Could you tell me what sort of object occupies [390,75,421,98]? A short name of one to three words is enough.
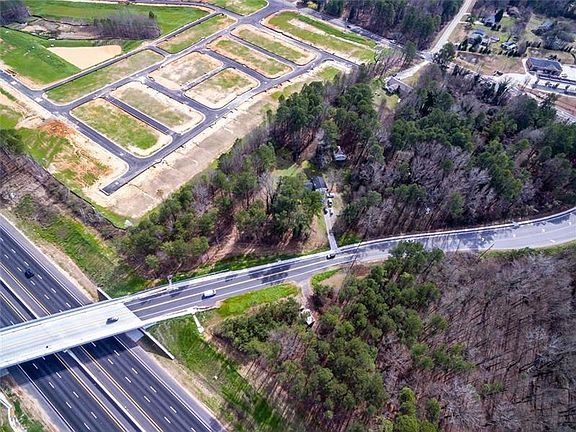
house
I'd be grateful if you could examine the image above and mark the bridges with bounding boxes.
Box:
[0,296,150,382]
